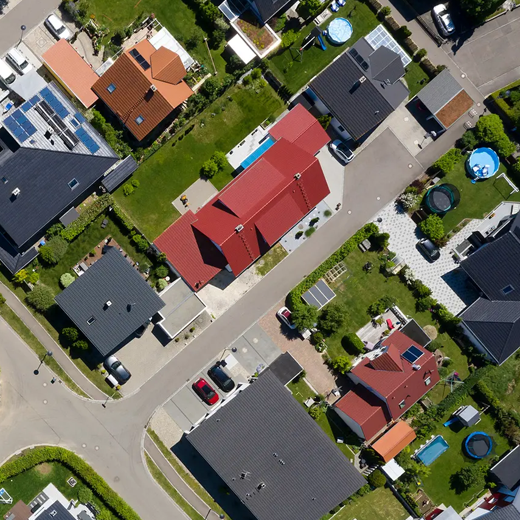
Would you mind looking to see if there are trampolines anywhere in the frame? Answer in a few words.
Yes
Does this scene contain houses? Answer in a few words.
Yes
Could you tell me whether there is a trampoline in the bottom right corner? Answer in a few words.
Yes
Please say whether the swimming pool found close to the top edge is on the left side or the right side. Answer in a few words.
right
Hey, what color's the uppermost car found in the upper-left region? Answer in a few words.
white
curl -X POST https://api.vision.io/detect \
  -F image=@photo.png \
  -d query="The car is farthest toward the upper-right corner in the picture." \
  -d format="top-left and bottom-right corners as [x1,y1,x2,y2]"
[430,3,456,38]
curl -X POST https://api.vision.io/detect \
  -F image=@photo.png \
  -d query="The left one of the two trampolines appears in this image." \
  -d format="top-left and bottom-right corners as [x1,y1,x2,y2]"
[428,182,463,214]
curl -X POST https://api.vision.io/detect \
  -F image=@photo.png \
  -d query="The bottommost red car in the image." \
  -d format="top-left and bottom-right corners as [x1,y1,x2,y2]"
[190,376,221,406]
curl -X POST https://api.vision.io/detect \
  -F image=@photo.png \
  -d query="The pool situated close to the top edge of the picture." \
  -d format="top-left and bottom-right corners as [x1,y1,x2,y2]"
[324,18,352,47]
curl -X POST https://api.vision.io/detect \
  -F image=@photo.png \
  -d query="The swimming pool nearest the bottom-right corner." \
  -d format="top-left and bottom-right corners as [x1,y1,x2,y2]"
[411,430,449,465]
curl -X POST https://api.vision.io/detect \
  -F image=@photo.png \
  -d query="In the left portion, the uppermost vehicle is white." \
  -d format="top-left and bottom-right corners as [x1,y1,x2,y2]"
[43,11,74,43]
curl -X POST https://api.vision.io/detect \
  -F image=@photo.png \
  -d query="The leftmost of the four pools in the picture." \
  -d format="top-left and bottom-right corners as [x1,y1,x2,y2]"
[241,139,274,170]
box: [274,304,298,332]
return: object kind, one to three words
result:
car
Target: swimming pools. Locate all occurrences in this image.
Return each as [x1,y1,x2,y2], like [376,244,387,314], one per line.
[411,430,449,465]
[324,18,352,47]
[241,139,274,170]
[463,147,499,182]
